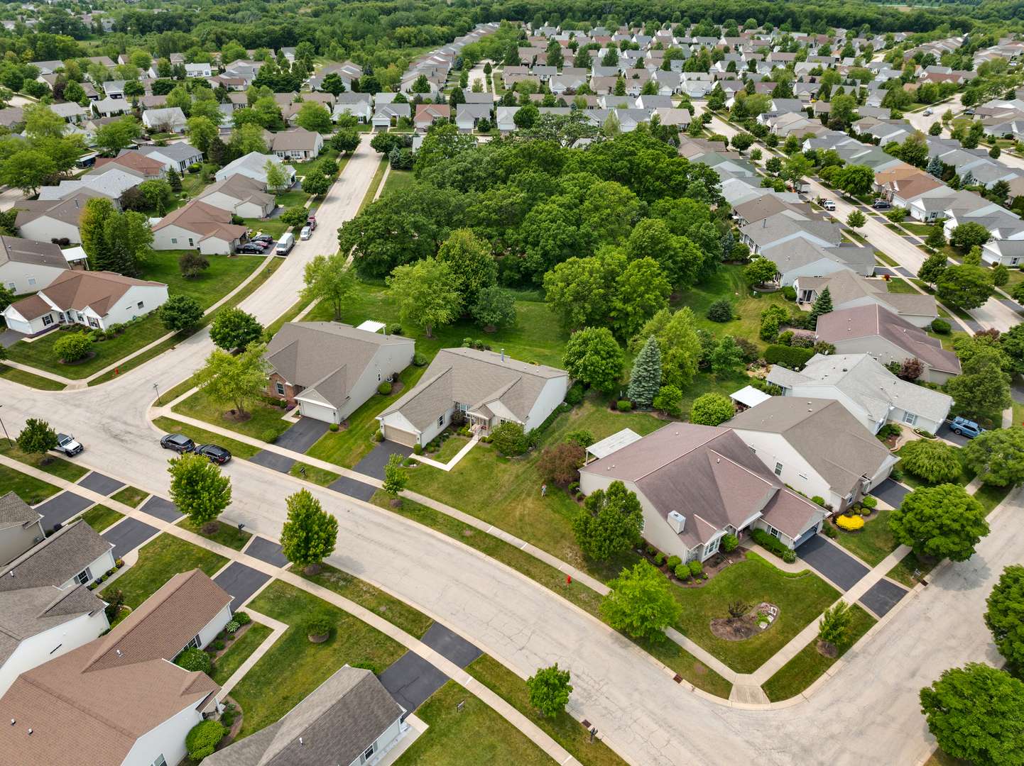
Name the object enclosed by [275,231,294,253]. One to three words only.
vehicle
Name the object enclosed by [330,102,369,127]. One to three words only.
house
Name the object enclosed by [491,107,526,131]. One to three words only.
house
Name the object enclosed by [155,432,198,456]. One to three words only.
car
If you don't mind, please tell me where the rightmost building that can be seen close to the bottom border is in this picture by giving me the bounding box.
[170,666,408,766]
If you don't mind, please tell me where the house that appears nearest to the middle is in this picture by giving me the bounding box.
[375,349,568,449]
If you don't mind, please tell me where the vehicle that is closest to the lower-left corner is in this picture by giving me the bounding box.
[51,429,84,458]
